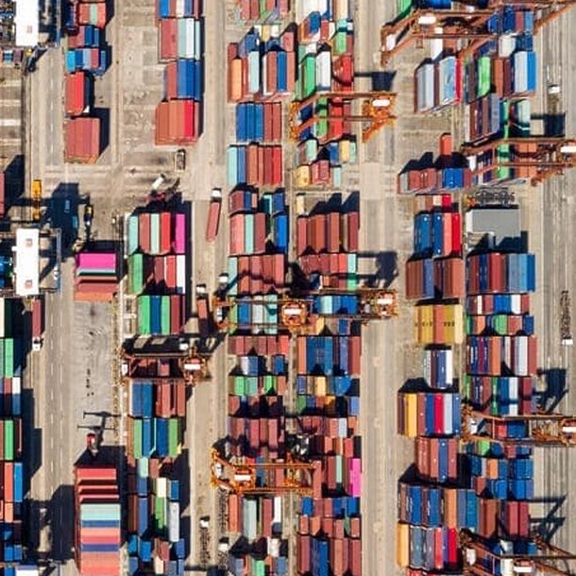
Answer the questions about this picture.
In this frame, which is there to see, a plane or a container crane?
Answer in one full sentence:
It is a container crane that can be seen here.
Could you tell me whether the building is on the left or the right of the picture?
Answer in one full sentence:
The building is on the right side of the image.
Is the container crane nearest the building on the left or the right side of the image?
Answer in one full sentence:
The container crane nearest the building is on the right side of the image.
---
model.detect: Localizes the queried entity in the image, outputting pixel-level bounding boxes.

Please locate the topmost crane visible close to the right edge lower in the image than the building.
[462,405,576,449]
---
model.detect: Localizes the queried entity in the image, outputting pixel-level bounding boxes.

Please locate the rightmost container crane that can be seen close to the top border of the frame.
[462,0,576,32]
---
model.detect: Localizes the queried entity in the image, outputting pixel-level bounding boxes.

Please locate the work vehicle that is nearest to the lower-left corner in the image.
[79,425,119,457]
